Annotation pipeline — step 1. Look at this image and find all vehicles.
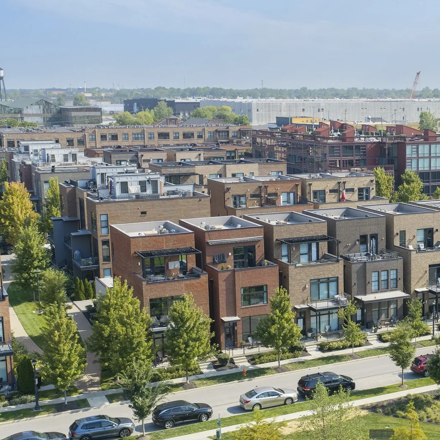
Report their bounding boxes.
[69,413,135,440]
[409,353,440,377]
[298,370,359,399]
[151,400,213,429]
[0,428,66,440]
[239,387,298,410]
